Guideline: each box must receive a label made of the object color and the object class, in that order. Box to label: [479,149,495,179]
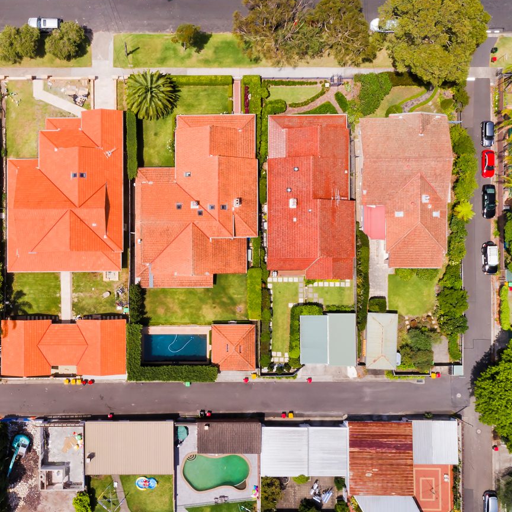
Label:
red car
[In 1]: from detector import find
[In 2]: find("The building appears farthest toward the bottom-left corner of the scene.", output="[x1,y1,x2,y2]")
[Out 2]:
[36,421,87,491]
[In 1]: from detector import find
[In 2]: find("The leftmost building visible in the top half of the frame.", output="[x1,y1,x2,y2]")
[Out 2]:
[6,107,123,273]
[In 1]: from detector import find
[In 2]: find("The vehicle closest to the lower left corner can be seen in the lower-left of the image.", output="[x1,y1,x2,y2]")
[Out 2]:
[5,428,33,481]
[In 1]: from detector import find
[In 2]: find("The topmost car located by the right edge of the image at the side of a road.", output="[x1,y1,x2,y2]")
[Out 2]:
[479,121,495,148]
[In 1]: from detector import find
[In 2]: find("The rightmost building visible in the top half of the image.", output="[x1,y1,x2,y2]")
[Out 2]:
[357,111,455,268]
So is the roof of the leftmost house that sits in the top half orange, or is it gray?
orange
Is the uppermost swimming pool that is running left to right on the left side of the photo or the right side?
left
